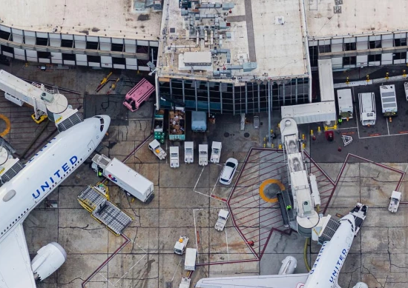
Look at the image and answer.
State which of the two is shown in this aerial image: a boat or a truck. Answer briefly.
truck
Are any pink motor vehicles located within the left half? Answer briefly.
Yes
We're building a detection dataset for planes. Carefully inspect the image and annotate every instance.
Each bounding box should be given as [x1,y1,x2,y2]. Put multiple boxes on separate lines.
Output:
[193,211,371,288]
[0,112,111,288]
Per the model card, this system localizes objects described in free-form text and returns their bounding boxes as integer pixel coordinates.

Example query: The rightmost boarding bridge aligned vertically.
[270,116,341,246]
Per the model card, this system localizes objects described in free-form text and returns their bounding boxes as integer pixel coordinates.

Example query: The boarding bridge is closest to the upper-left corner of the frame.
[0,69,87,128]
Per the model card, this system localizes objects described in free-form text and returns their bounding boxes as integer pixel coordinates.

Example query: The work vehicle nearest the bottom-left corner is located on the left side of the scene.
[75,183,134,240]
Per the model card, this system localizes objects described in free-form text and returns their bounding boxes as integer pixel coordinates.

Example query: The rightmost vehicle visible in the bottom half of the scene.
[388,189,402,215]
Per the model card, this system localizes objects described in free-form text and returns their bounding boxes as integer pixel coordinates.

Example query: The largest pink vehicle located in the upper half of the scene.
[122,82,155,113]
